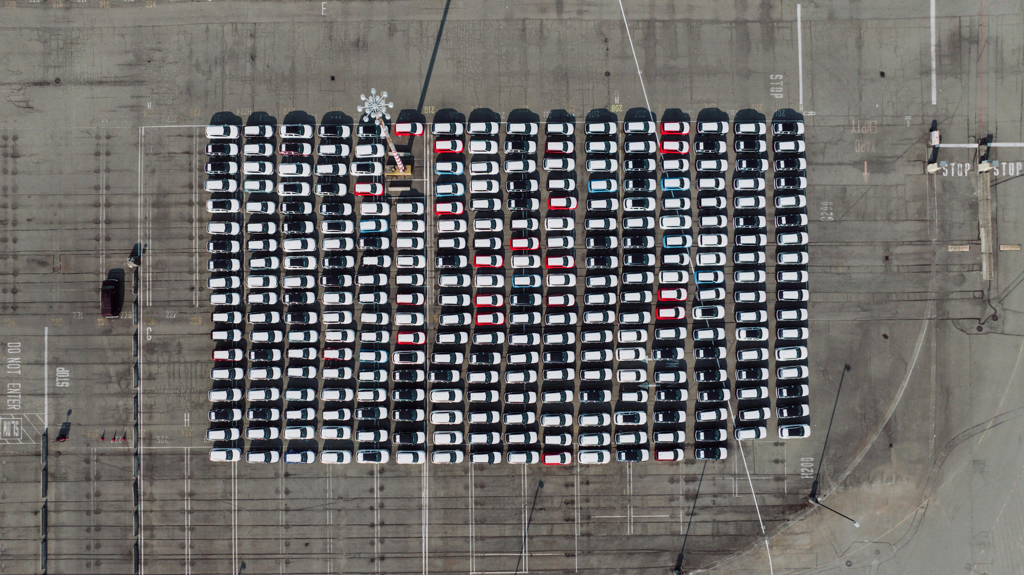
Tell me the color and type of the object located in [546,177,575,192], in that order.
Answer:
white car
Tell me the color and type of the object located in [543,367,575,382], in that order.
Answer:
white car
